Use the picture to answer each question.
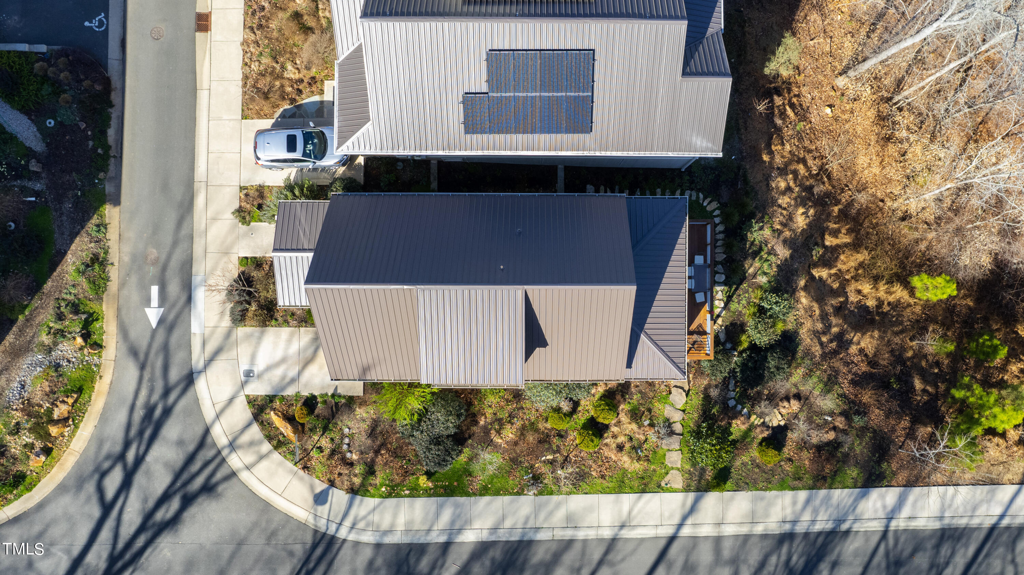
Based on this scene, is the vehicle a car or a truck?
car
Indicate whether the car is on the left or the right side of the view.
left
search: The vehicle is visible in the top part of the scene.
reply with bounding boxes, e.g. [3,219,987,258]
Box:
[252,120,352,169]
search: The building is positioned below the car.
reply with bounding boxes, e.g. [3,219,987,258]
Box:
[271,192,687,389]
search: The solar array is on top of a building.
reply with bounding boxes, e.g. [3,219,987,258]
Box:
[459,50,596,134]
